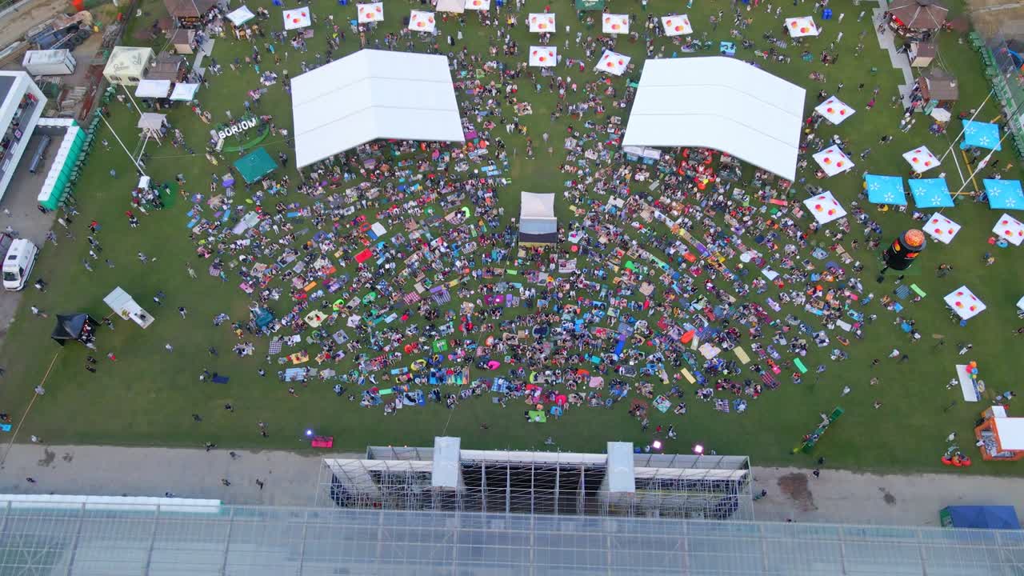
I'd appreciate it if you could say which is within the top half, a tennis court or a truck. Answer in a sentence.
Looking within the top half, you will find a truck.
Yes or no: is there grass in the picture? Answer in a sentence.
Yes, the picture does contain grass.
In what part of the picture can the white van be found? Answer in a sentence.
Look in the left portion of the view to spot the white van.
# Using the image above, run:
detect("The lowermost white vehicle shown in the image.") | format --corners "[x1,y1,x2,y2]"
[3,234,44,290]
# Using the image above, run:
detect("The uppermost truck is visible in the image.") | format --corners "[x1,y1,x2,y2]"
[26,10,98,51]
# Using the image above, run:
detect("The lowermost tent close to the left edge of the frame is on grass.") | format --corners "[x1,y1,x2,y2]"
[51,313,100,345]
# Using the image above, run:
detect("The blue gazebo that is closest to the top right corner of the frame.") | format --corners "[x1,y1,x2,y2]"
[951,119,1003,163]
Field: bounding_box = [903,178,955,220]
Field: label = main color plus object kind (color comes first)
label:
blue gazebo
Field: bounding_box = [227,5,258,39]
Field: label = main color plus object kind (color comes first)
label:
white gazebo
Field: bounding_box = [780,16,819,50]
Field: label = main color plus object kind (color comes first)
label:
white gazebo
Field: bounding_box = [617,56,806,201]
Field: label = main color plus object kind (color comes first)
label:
white tent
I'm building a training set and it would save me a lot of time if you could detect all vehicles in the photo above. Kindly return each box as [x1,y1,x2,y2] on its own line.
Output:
[0,238,15,275]
[26,10,98,51]
[3,234,44,290]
